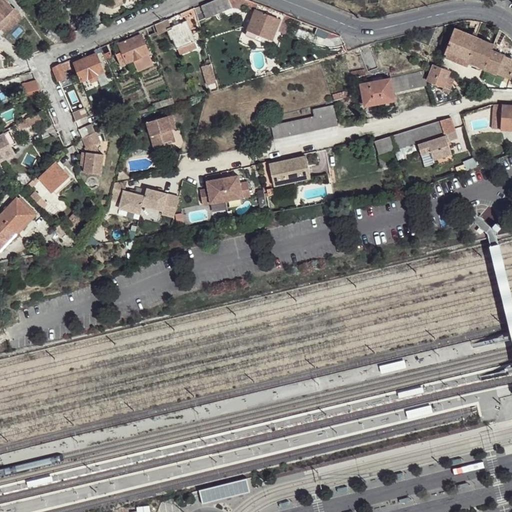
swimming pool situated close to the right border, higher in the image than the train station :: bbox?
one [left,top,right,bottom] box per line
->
[471,117,490,133]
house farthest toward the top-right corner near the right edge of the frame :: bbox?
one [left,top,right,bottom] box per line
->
[444,28,512,84]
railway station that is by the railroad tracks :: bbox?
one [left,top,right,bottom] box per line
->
[0,332,512,512]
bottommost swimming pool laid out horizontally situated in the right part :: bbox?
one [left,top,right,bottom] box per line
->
[304,186,326,200]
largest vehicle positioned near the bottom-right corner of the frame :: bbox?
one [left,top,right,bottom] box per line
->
[453,462,486,475]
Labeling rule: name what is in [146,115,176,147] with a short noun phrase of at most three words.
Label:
house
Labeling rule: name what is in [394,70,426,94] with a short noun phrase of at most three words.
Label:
building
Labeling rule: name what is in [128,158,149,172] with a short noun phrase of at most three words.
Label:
swimming pool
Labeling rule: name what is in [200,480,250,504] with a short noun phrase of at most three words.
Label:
building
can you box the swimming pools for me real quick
[0,108,14,124]
[250,50,266,70]
[128,158,149,172]
[236,200,252,214]
[10,26,25,40]
[22,152,36,168]
[471,117,490,133]
[188,208,208,222]
[66,89,80,105]
[304,186,326,200]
